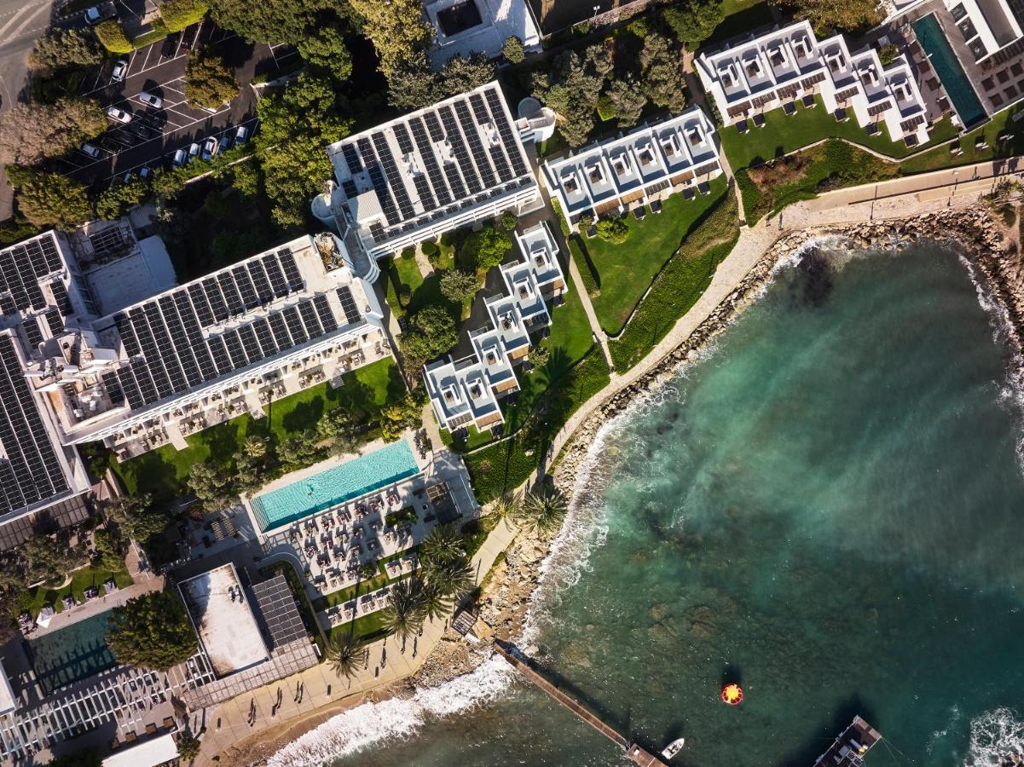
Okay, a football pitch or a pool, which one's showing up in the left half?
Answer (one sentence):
What appears in the left half is a pool.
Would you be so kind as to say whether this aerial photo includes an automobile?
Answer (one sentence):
Yes, the frame does contain an automobile.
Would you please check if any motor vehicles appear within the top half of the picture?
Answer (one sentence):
Yes, I can see a motor vehicle within the top half of the picture.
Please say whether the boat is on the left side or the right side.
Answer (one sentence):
It is on the right.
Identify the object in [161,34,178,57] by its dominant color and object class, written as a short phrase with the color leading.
black car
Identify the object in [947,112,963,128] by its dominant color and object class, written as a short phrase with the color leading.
white umbrella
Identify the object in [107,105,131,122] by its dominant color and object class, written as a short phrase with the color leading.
white car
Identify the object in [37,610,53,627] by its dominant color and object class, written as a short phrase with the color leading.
white umbrella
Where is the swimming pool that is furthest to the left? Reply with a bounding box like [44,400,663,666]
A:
[24,601,147,699]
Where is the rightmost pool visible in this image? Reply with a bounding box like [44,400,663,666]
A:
[909,9,992,132]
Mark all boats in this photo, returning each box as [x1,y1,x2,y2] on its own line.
[661,738,685,761]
